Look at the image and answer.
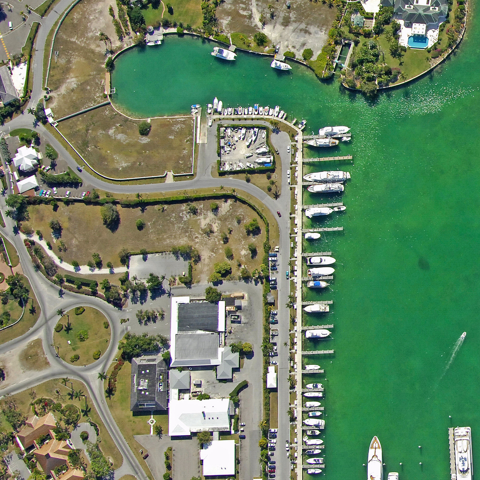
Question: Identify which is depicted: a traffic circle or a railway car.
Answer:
traffic circle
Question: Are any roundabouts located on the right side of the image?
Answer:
No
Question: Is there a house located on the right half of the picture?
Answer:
Yes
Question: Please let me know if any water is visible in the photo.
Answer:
Yes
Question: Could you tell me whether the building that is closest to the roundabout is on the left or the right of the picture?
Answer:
left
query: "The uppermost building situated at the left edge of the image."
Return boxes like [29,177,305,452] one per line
[0,61,21,106]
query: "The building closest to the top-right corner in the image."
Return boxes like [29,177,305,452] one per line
[393,0,448,36]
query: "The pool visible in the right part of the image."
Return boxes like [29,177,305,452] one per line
[407,36,430,51]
